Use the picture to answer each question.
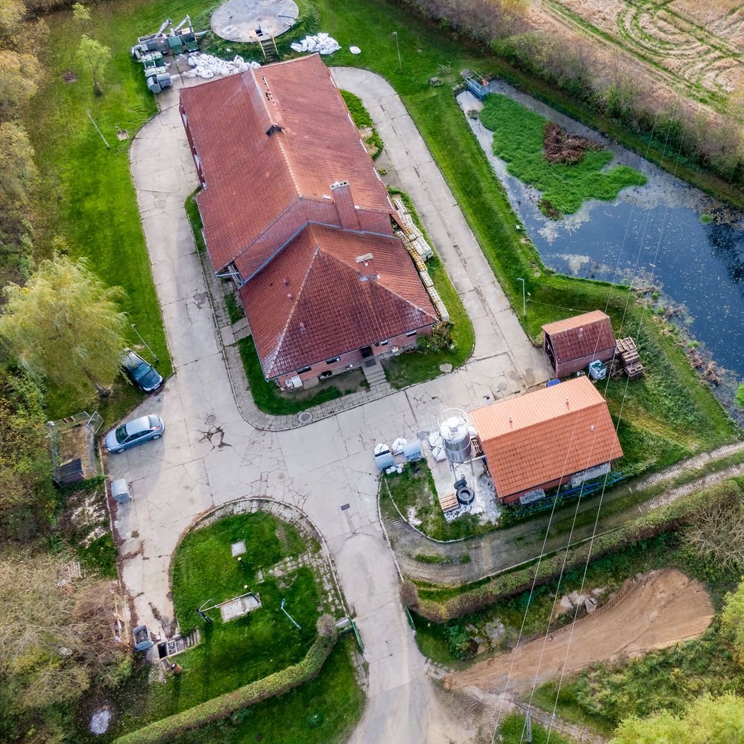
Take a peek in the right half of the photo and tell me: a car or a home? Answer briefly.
home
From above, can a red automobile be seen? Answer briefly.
No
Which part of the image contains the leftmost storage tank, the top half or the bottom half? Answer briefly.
top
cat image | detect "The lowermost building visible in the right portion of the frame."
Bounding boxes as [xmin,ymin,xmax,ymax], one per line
[467,375,625,505]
